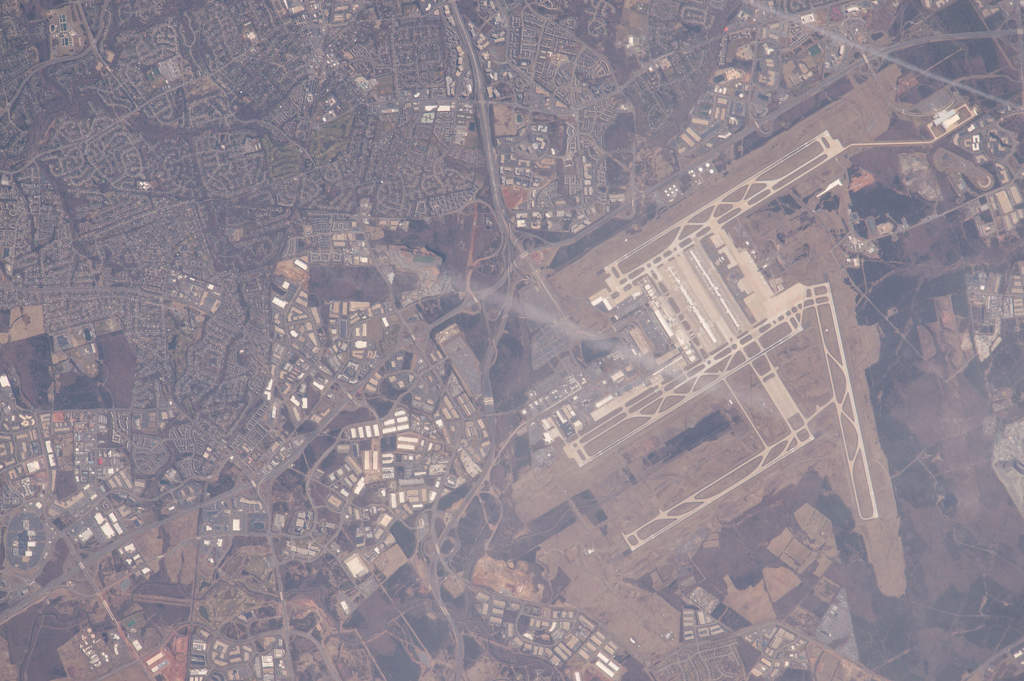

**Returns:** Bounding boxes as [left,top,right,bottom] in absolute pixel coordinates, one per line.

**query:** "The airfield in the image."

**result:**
[544,129,937,556]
